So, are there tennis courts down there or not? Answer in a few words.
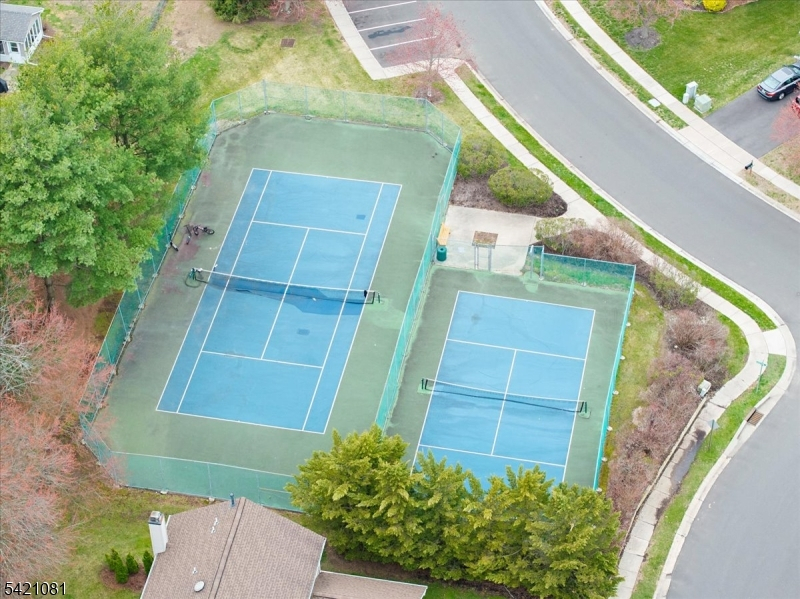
Yes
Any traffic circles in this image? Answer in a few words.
No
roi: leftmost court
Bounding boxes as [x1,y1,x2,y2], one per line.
[81,112,455,512]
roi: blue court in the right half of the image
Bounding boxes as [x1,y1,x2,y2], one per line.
[380,265,632,543]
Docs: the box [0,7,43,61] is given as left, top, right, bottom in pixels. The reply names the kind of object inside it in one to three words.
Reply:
house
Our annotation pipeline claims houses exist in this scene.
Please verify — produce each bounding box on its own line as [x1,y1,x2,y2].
[138,496,427,599]
[0,7,43,61]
